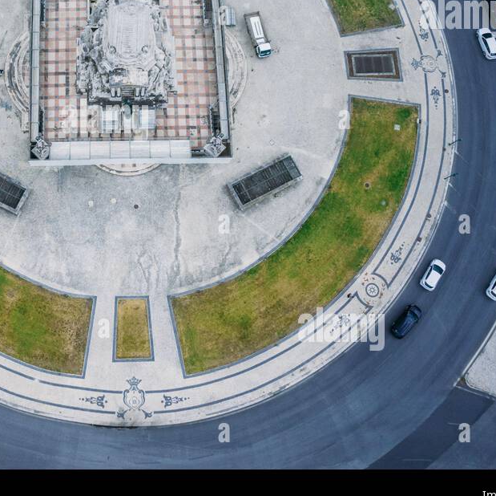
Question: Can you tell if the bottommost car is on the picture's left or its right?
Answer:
right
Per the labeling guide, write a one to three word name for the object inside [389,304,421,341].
car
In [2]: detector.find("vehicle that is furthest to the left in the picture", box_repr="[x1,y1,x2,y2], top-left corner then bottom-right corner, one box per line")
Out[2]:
[244,12,276,58]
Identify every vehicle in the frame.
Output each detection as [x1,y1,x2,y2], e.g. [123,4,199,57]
[244,12,276,58]
[485,275,496,301]
[474,30,496,61]
[389,304,421,341]
[419,258,446,293]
